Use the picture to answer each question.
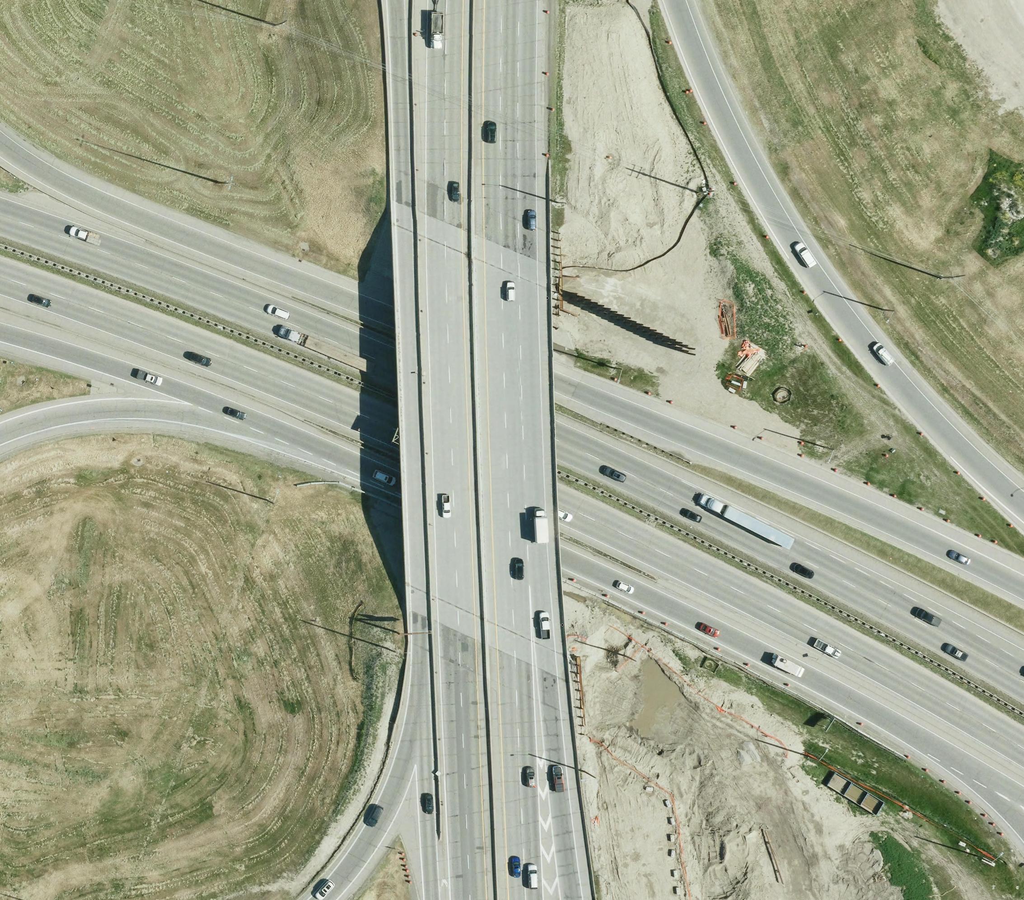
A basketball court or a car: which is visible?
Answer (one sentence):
The one in the frame is a car.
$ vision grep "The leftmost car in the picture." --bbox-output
[29,294,52,307]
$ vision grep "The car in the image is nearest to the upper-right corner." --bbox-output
[796,243,815,267]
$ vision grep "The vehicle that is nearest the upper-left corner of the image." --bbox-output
[68,226,103,247]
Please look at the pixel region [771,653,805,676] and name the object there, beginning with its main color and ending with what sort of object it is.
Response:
white camper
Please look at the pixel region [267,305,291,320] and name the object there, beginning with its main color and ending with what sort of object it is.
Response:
white car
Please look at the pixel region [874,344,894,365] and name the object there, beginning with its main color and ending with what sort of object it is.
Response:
white car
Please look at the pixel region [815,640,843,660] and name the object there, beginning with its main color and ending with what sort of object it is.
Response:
white vehicle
